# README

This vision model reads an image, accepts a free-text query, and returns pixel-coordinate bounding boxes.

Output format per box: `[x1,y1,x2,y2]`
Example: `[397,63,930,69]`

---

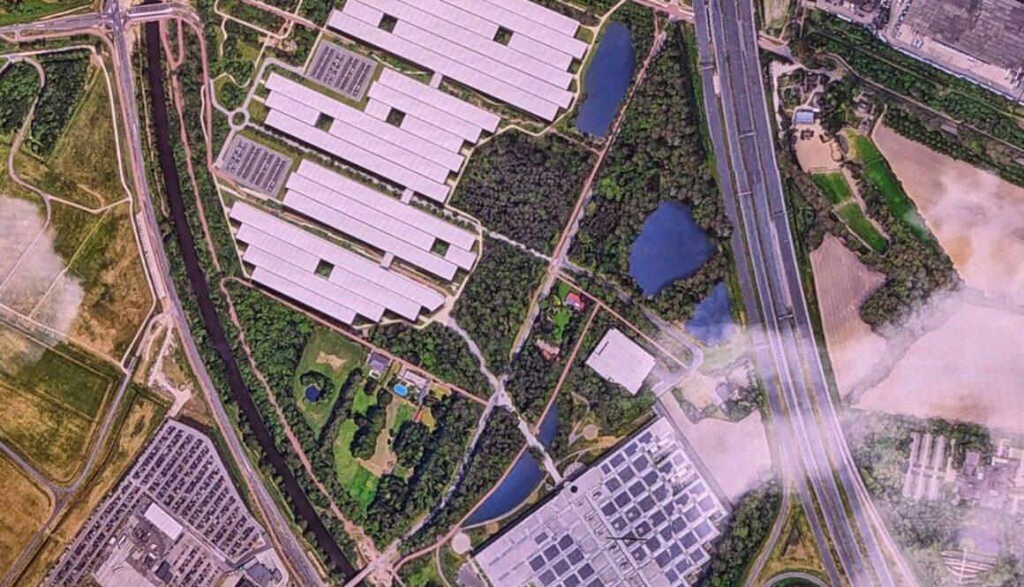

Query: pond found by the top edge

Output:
[576,21,634,136]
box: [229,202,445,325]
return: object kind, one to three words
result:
building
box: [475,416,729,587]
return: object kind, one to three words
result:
building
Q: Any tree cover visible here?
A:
Yes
